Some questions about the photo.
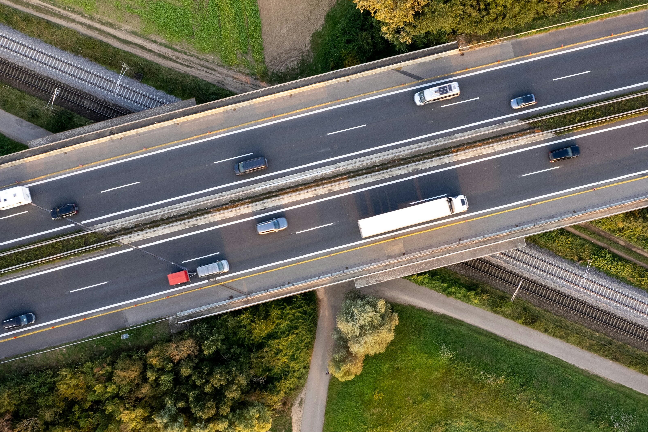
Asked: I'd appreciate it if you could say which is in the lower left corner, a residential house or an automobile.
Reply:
automobile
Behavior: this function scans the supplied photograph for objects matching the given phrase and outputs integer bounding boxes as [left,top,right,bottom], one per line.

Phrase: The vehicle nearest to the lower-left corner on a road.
[2,312,37,330]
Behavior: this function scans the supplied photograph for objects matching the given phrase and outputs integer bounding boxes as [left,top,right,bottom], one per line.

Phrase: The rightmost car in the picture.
[546,145,580,163]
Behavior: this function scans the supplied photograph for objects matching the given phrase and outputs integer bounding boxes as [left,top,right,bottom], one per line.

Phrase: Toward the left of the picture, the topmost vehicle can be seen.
[233,157,268,175]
